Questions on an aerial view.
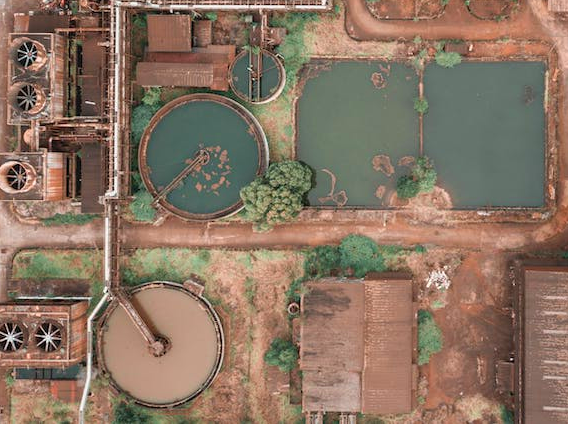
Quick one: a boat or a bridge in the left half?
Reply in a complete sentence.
Visible in the left half is a bridge.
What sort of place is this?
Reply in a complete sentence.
It's an industrial area.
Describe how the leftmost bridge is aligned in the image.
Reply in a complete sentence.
From this overhead view, the leftmost bridge appears to run on a diagonal.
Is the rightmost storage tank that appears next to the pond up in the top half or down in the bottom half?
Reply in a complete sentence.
The rightmost storage tank that appears next to the pond is in the top half of the image.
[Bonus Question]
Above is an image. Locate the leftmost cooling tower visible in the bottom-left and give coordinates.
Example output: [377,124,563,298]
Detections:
[0,298,90,363]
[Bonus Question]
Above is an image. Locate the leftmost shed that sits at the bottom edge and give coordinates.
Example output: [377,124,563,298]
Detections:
[50,380,84,404]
